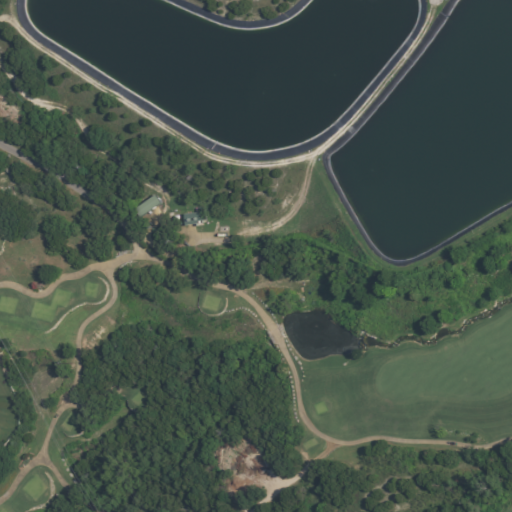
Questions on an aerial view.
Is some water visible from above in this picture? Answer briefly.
Yes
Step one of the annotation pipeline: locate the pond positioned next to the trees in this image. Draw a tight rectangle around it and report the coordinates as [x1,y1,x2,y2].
[285,310,360,358]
